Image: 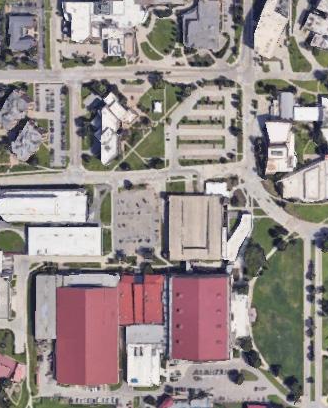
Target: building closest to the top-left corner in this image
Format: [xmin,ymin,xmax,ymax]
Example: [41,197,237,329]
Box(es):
[9,14,37,51]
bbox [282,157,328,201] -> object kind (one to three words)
building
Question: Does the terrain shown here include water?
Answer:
No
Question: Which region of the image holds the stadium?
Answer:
center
